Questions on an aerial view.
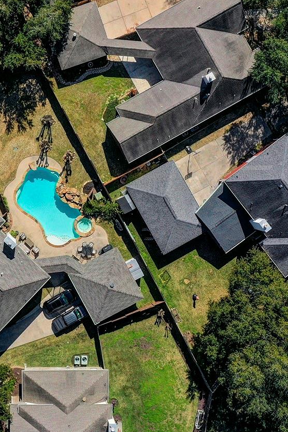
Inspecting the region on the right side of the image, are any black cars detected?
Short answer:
No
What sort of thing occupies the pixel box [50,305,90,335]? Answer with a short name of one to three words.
truck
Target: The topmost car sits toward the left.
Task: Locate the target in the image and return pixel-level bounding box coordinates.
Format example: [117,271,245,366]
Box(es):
[41,288,78,314]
